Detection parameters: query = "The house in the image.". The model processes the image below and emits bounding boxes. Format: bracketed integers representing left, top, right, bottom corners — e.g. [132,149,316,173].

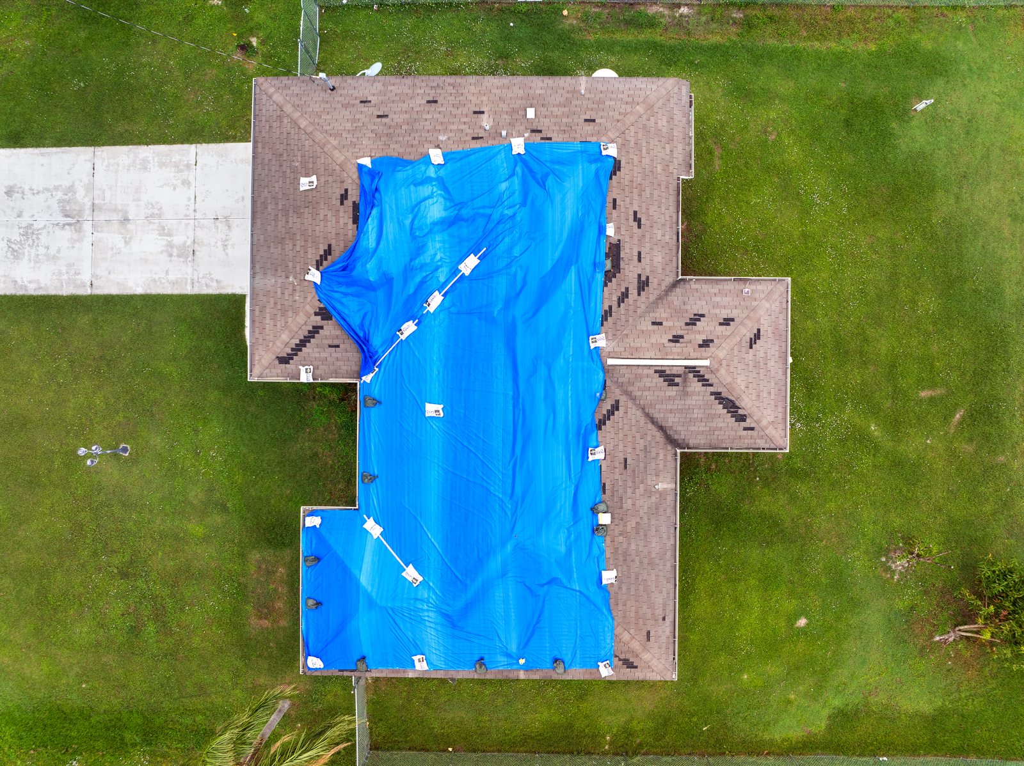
[251,77,790,680]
